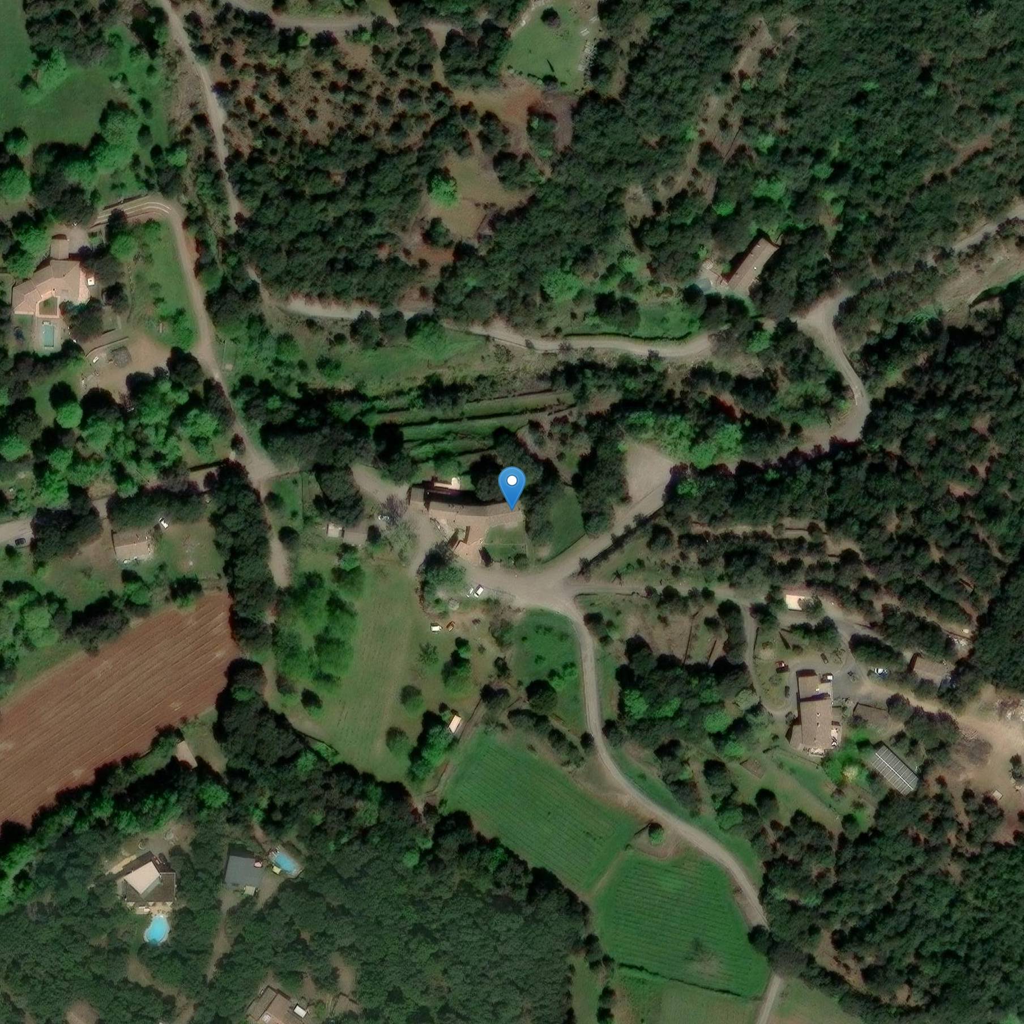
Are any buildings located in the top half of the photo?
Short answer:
Yes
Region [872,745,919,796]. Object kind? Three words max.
building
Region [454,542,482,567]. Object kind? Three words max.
barn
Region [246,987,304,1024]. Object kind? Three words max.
house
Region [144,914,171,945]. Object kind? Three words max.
swimming pool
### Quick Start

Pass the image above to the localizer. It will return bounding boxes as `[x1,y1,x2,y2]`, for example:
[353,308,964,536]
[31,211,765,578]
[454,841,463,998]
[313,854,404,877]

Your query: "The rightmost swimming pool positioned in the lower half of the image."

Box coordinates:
[272,850,299,875]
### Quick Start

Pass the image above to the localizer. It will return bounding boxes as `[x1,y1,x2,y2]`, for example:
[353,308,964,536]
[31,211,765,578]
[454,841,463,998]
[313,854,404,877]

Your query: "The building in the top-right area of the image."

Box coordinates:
[728,236,779,294]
